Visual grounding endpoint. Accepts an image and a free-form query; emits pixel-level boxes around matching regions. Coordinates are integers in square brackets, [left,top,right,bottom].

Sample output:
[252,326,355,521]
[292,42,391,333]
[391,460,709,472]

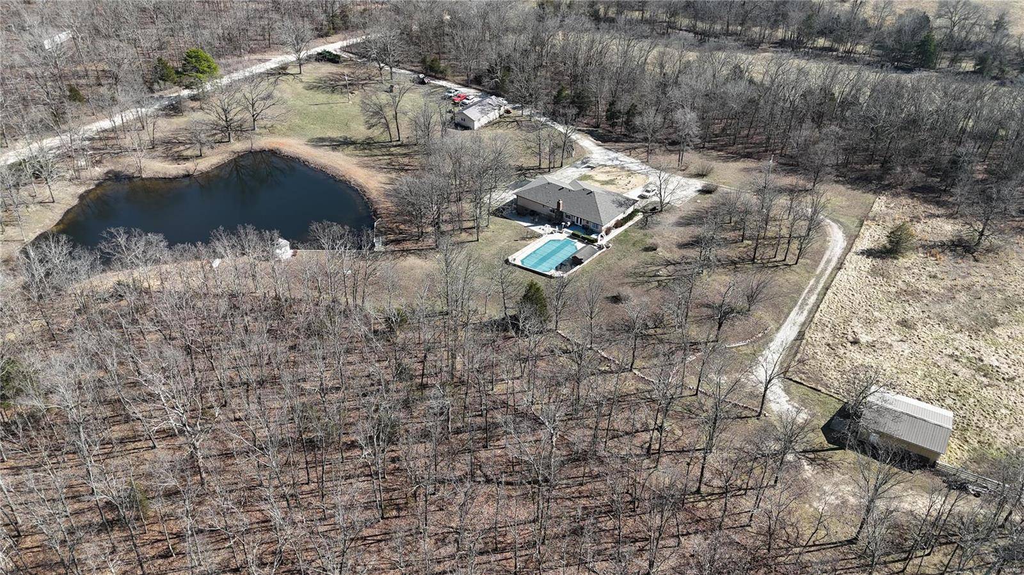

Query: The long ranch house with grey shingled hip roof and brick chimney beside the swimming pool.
[515,177,643,235]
